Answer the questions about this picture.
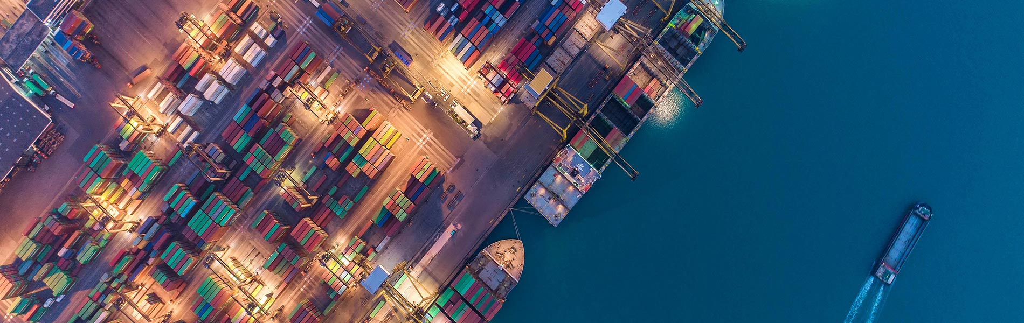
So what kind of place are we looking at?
port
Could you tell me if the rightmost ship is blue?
Yes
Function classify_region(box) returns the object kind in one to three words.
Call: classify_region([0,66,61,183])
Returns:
building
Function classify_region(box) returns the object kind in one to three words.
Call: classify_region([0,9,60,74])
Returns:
building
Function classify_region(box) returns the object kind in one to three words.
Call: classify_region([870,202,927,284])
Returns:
ship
